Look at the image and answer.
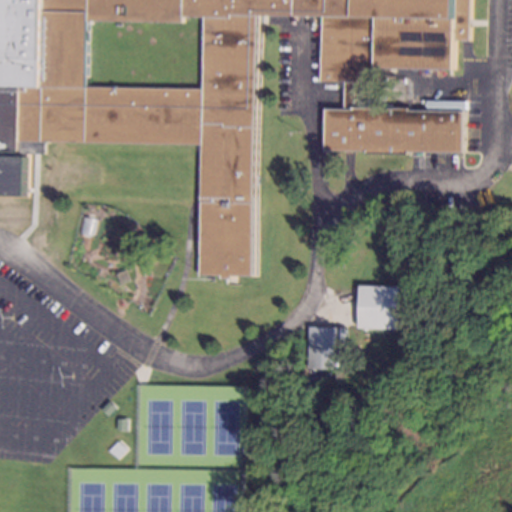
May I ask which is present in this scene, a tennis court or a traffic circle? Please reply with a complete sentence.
Looking from above, you can make out a tennis court.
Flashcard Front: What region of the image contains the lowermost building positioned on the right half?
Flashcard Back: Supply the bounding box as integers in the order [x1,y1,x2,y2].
[308,326,347,372]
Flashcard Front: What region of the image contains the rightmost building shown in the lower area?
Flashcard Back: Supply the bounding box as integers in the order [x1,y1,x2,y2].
[358,286,404,331]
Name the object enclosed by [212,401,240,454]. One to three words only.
tennis court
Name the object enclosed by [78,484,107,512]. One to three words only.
tennis court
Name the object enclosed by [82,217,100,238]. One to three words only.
greenhouse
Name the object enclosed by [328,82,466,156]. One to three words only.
building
